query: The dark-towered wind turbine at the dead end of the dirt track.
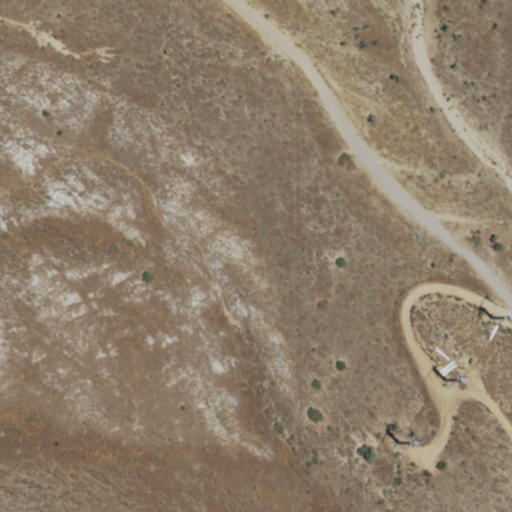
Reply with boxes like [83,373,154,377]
[396,425,422,460]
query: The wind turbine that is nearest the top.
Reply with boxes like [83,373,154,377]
[490,307,512,336]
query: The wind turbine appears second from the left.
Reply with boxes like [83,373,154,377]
[443,363,470,392]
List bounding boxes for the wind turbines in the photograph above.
[490,307,512,336]
[396,425,422,460]
[443,363,470,392]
